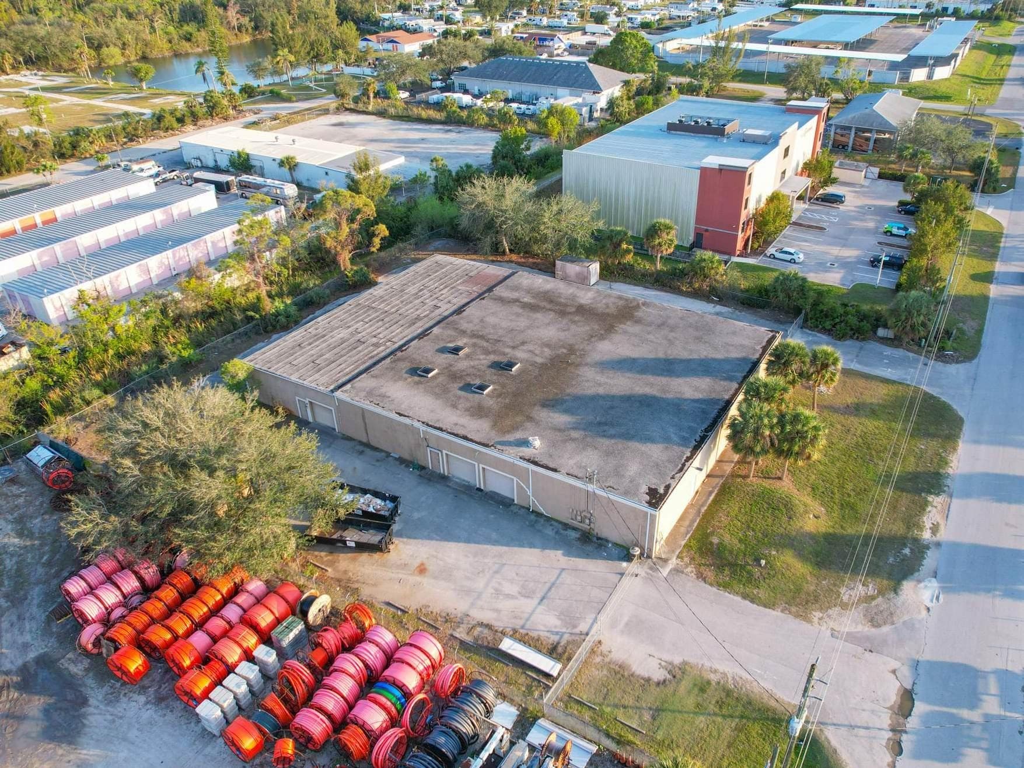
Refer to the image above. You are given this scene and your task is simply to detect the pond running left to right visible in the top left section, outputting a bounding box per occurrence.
[90,39,374,92]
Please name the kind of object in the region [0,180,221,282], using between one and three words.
building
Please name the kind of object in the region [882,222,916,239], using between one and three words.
car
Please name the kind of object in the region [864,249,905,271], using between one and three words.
car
